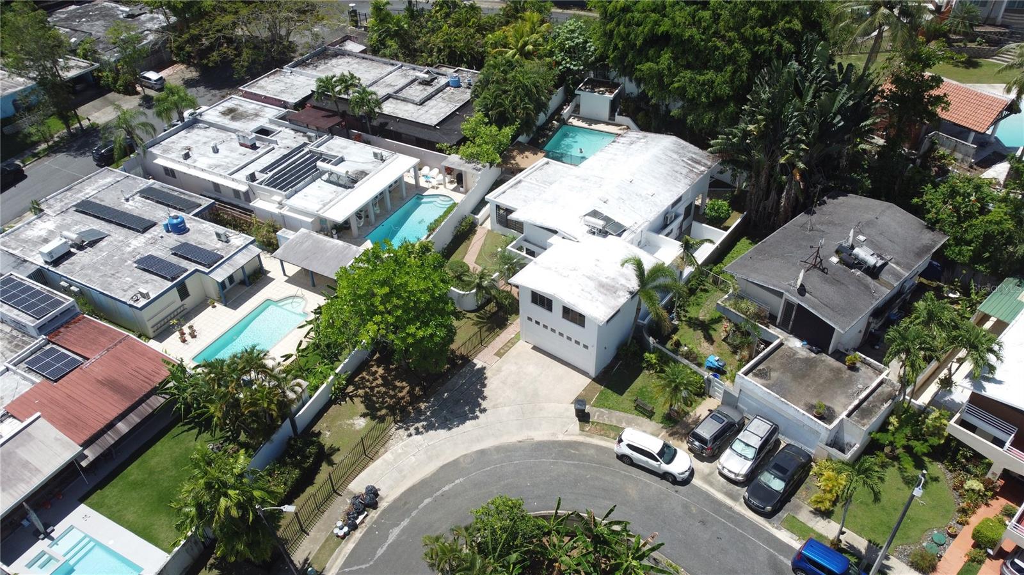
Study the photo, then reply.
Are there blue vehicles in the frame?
Yes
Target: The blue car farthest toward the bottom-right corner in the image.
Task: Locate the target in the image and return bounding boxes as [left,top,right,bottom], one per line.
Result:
[786,529,866,575]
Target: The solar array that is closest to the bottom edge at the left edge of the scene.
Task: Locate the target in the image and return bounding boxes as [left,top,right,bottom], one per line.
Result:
[24,345,82,382]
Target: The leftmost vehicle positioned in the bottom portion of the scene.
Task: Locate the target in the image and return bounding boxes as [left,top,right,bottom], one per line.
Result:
[613,428,696,486]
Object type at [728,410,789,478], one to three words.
car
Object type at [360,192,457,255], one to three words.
swimming pool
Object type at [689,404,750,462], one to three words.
car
